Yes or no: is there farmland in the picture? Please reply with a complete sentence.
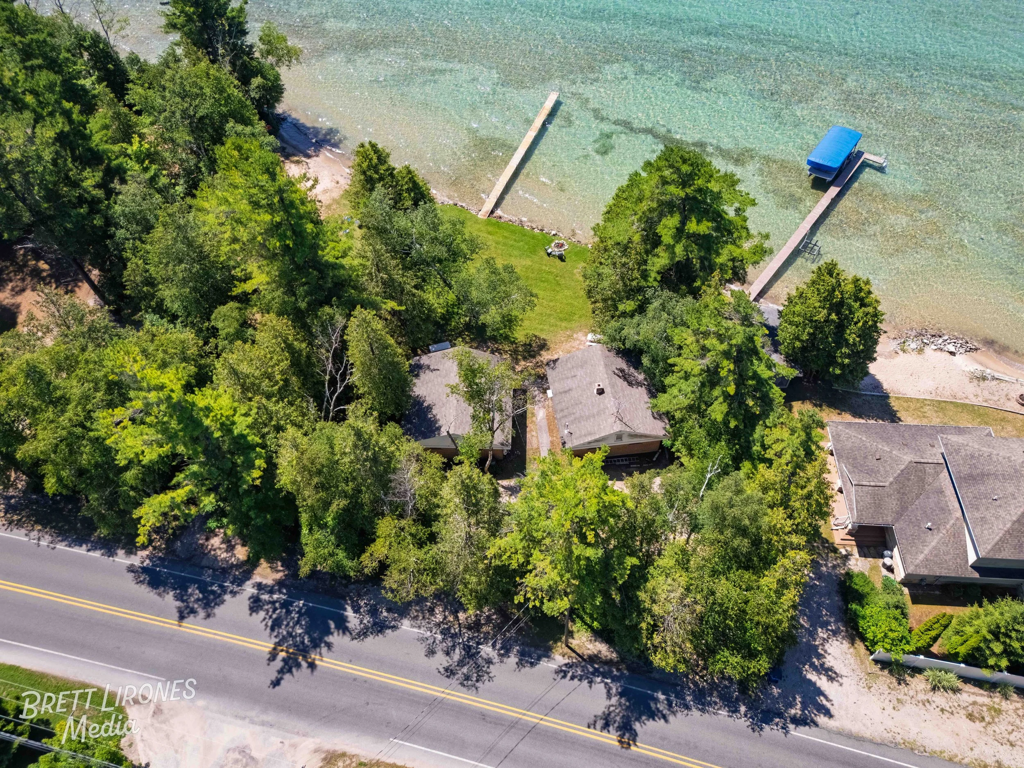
No, the picture contains no farmland.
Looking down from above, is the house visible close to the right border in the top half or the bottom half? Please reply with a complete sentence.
The house visible close to the right border sits in the bottom half of the picture.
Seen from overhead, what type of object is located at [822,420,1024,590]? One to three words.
house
